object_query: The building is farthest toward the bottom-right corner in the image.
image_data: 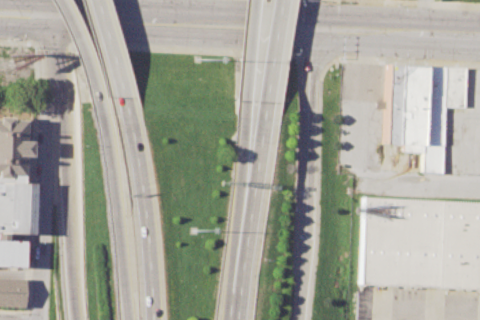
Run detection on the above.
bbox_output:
[360,196,480,289]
